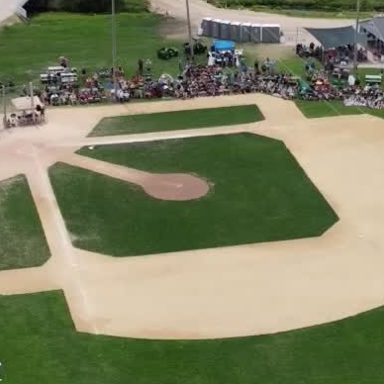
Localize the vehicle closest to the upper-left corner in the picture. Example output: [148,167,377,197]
[157,41,179,59]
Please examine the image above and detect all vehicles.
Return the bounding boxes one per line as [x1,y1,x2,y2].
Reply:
[157,41,179,59]
[186,35,208,54]
[182,39,195,57]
